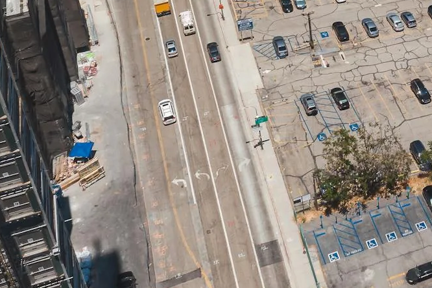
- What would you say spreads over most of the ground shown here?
paved ground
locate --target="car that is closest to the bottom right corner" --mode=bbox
[403,262,432,287]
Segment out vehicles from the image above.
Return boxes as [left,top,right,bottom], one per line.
[277,0,295,14]
[299,90,320,119]
[403,262,432,287]
[293,0,308,11]
[206,40,223,65]
[179,5,196,37]
[330,86,350,113]
[271,36,289,60]
[331,20,350,44]
[359,17,380,40]
[425,4,432,19]
[154,0,171,20]
[399,10,418,31]
[384,12,405,35]
[409,83,432,109]
[164,38,180,62]
[408,140,432,171]
[420,183,432,215]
